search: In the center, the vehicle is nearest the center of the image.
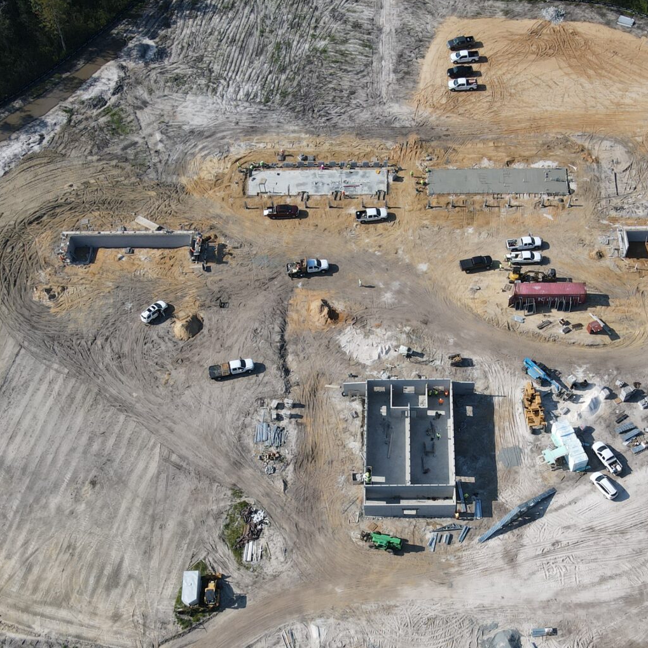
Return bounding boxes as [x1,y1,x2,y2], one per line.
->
[286,260,331,280]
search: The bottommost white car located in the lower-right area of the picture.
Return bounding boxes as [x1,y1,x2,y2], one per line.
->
[588,473,621,502]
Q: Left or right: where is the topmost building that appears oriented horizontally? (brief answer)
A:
left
